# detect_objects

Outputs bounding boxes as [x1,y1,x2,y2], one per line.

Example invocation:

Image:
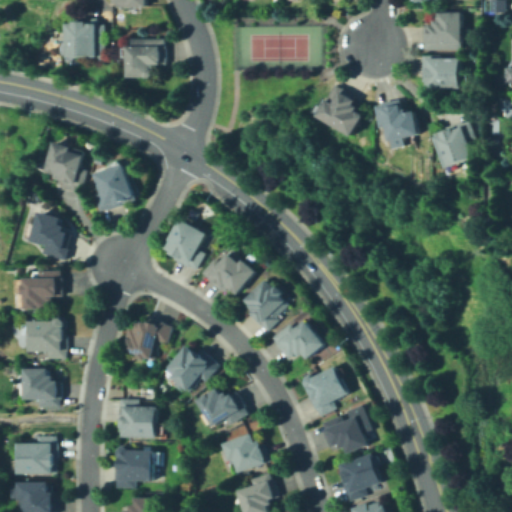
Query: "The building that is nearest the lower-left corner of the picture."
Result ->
[10,482,52,512]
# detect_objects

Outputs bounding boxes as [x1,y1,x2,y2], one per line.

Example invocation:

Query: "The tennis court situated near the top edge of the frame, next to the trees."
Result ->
[236,26,324,67]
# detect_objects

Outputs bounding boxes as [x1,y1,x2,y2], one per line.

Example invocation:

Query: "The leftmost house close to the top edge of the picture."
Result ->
[60,20,97,60]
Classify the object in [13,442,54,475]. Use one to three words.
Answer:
house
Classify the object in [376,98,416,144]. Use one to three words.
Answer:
house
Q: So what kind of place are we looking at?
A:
residential area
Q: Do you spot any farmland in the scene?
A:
No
